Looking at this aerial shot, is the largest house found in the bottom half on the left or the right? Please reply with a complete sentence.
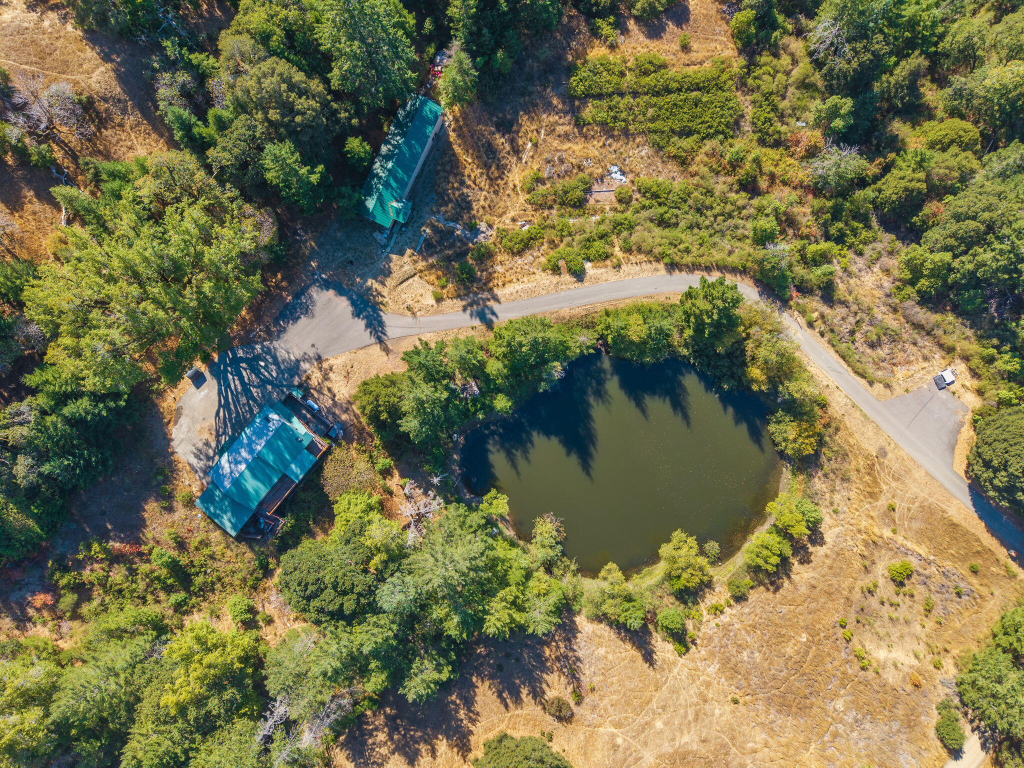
The largest house found in the bottom half appears in the left half of the scene.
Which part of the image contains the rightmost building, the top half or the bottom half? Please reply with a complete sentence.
The rightmost building sits in the top half of the picture.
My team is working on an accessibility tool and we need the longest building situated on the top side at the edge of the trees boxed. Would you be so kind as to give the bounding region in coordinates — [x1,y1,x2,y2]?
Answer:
[353,88,447,234]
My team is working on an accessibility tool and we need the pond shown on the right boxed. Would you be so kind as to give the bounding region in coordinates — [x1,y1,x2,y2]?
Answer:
[456,346,784,574]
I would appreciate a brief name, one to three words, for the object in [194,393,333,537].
house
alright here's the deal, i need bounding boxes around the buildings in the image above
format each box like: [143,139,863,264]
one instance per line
[194,393,333,537]
[353,88,447,234]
